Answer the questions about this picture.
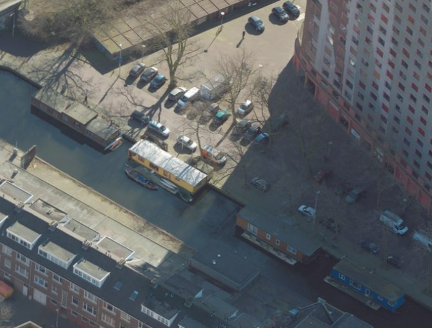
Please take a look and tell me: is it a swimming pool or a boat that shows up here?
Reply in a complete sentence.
This aerial view contains a boat.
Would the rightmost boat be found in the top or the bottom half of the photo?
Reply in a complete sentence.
You can find the rightmost boat in the bottom half.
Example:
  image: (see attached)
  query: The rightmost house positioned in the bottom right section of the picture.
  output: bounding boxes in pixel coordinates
[285,283,384,328]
